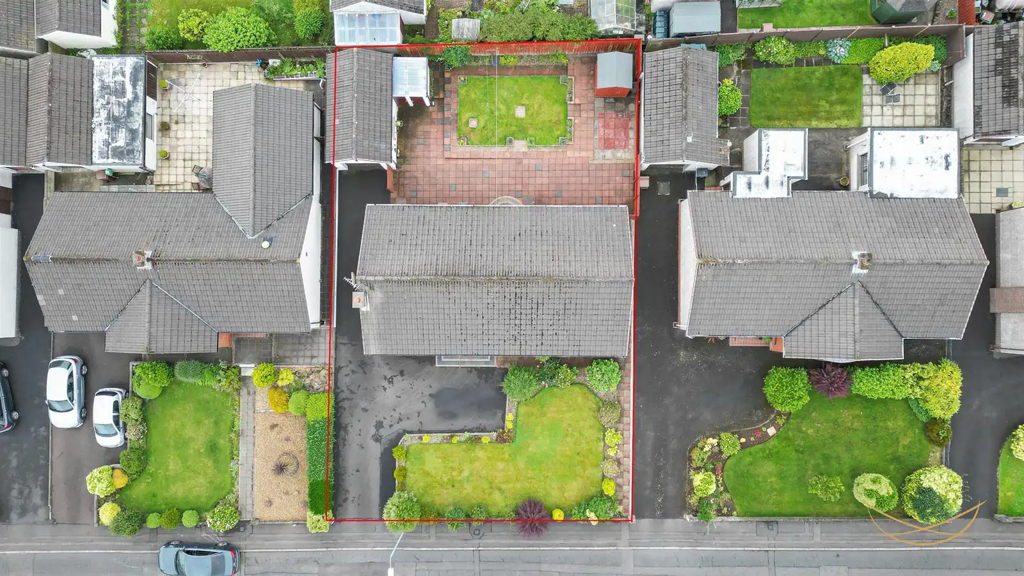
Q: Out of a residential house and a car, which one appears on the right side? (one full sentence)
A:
Looking on the right side, you will find a residential house.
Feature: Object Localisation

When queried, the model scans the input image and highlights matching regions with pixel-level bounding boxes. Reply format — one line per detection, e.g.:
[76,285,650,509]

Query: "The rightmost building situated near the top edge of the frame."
[954,18,1024,147]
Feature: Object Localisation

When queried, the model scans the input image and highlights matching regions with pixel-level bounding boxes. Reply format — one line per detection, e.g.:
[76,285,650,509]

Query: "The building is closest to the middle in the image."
[351,203,635,366]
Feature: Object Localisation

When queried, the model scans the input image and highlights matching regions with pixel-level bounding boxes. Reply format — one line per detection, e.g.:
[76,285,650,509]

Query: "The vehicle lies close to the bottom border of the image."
[159,541,239,576]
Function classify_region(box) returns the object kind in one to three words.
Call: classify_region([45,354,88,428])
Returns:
car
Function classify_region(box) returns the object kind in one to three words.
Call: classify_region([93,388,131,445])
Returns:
car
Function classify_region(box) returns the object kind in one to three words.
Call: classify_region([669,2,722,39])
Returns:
shed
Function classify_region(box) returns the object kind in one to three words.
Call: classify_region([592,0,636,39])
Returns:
greenhouse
